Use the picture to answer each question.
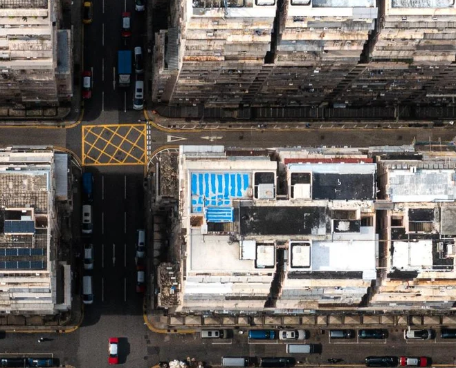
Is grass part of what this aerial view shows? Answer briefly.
No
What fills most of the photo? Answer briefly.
buildings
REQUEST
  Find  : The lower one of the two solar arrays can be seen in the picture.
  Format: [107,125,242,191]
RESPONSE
[0,248,43,268]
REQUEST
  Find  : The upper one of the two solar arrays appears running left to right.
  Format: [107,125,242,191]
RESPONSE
[4,220,35,234]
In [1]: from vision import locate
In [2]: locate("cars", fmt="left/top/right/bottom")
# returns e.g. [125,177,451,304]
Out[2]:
[81,205,93,233]
[201,328,227,340]
[28,356,53,368]
[286,343,313,354]
[82,172,93,199]
[133,46,145,74]
[134,0,146,12]
[0,356,25,368]
[82,244,94,269]
[399,355,427,367]
[327,328,350,340]
[260,356,289,368]
[222,356,249,368]
[135,230,147,257]
[132,81,145,110]
[247,328,276,340]
[365,355,395,367]
[135,265,146,292]
[120,12,132,38]
[107,338,119,364]
[278,329,305,341]
[358,328,385,340]
[81,71,93,99]
[403,328,431,340]
[82,276,94,303]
